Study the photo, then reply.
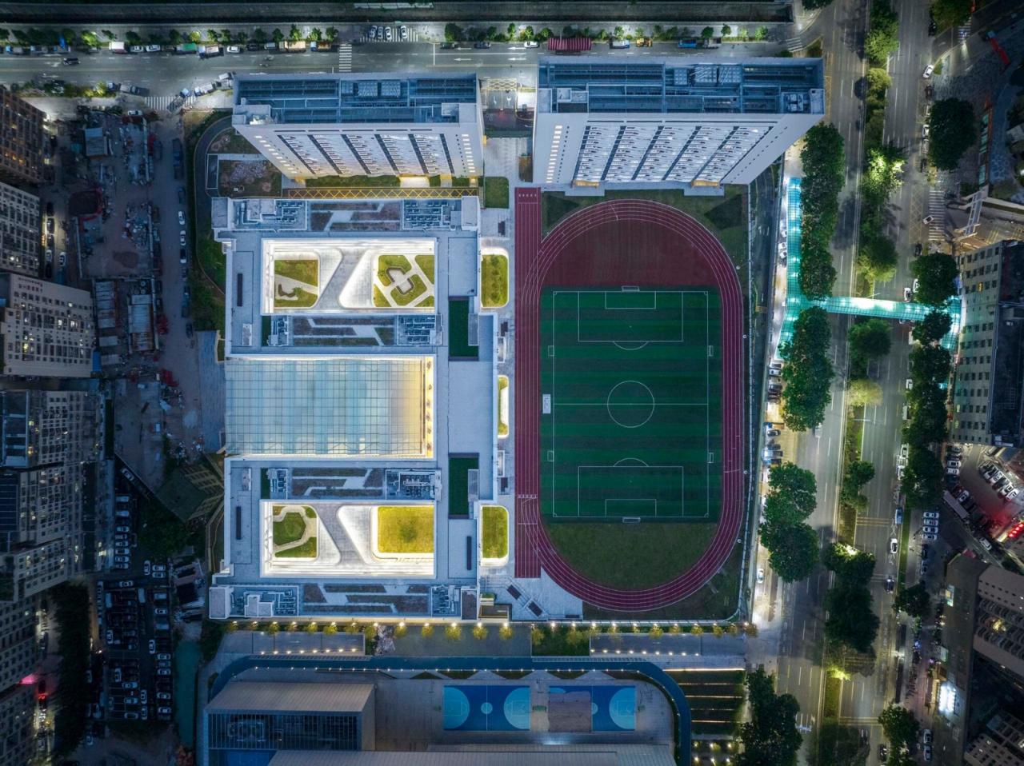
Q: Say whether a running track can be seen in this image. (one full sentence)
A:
Yes, the frame does contain a running track.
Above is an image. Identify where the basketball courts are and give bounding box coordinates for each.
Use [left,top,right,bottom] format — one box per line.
[443,685,530,731]
[548,685,635,731]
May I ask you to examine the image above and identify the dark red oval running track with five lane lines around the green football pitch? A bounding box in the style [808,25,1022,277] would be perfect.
[515,189,744,613]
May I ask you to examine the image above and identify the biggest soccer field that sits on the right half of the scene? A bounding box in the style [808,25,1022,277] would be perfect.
[541,286,722,522]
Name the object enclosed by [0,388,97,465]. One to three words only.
building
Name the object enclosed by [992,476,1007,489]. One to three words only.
vehicle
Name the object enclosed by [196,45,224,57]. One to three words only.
vehicle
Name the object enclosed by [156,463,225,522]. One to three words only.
house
